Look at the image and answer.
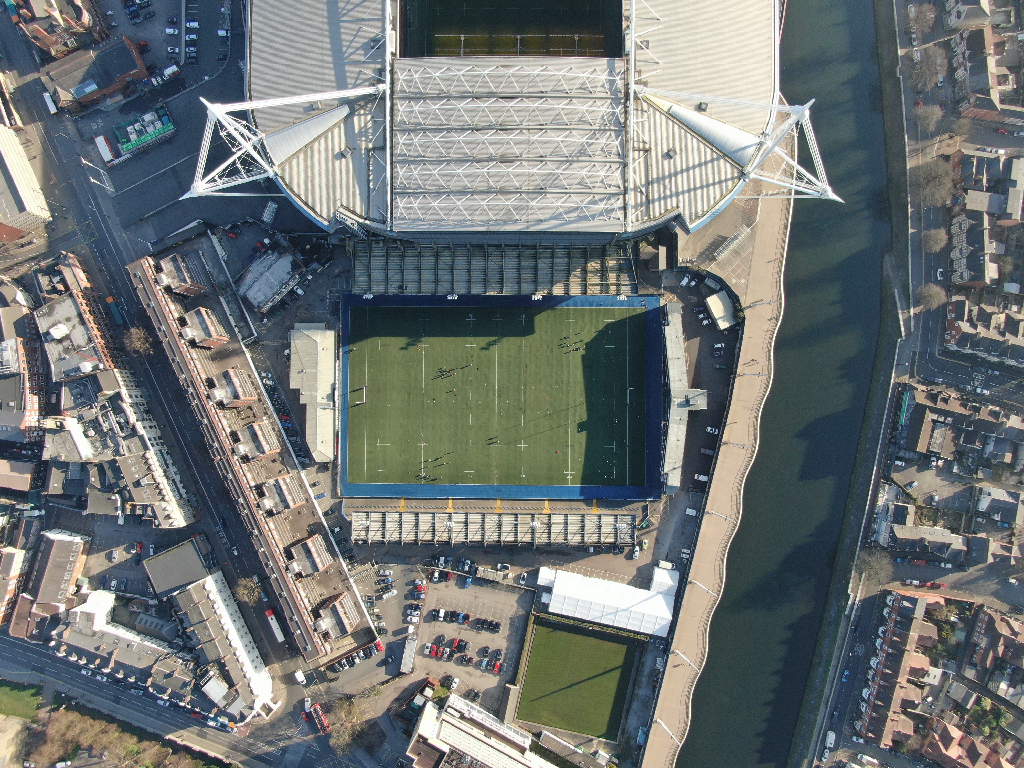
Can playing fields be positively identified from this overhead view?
Yes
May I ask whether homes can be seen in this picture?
Yes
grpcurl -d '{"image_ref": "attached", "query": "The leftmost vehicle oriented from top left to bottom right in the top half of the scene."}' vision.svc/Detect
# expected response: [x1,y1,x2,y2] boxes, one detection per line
[43,92,62,118]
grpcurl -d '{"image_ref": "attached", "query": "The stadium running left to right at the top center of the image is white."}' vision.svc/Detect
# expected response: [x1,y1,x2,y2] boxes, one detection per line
[179,0,844,250]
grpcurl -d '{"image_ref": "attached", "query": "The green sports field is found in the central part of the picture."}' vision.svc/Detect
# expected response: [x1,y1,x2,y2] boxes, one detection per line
[340,273,662,500]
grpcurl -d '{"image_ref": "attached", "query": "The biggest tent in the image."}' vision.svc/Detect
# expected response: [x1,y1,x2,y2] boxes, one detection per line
[549,567,675,637]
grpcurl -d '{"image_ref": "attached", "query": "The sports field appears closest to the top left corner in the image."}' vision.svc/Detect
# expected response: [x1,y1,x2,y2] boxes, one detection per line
[407,0,611,57]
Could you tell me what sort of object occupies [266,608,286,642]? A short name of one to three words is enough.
bus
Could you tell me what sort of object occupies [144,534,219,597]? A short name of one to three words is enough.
building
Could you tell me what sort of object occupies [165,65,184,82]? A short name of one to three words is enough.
vehicle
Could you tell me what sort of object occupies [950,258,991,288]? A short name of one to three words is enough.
house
